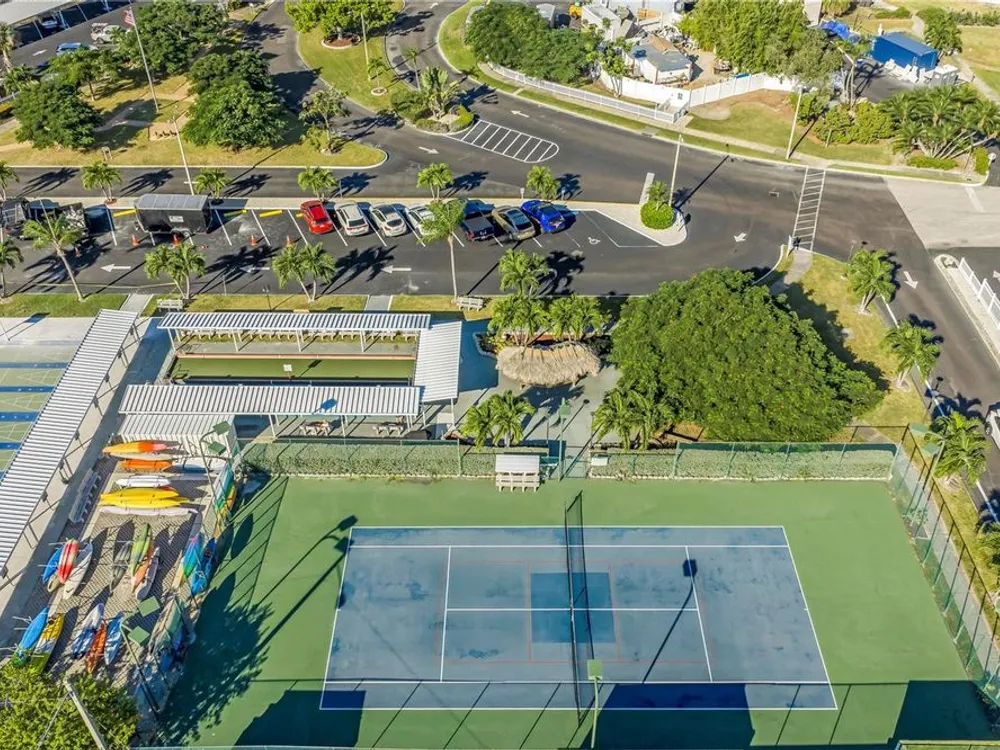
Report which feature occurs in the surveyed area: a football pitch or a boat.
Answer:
boat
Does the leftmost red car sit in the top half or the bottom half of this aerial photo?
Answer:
top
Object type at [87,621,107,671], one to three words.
boat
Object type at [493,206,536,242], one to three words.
car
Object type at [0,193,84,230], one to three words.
truck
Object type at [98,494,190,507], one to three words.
boat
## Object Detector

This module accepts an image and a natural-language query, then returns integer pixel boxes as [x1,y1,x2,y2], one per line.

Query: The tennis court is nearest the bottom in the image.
[155,477,1000,750]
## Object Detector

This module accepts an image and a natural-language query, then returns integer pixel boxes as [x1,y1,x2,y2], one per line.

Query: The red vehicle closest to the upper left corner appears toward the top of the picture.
[298,205,335,238]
